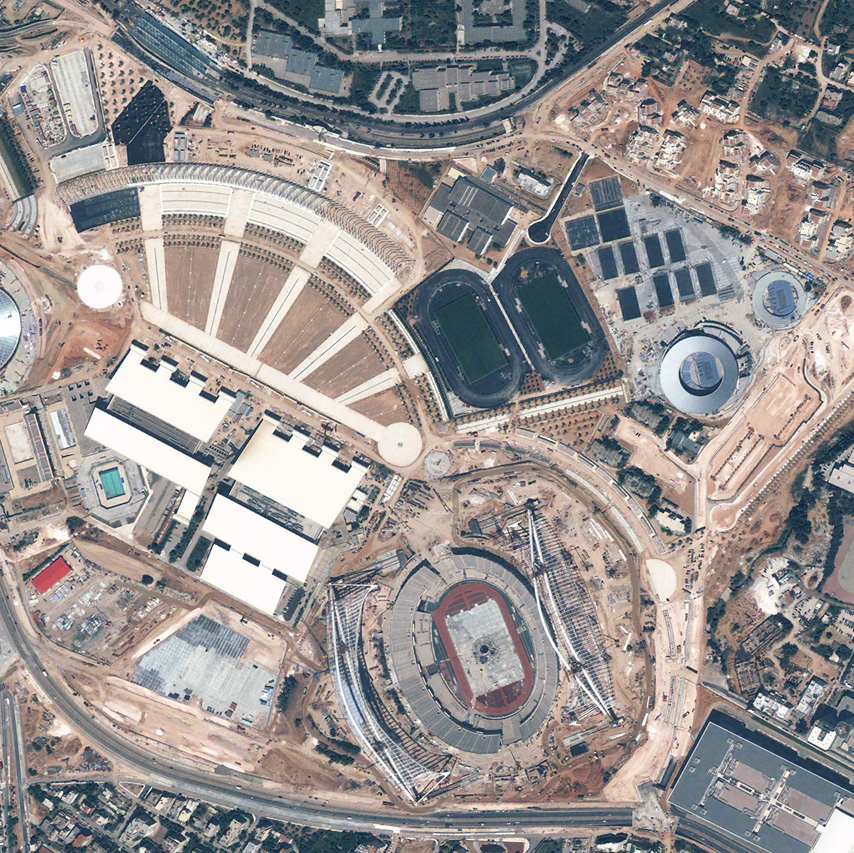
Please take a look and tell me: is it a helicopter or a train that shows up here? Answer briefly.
train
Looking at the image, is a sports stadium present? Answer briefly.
Yes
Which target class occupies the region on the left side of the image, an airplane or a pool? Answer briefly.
pool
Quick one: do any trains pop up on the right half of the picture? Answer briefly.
No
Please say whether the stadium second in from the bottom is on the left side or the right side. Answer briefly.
right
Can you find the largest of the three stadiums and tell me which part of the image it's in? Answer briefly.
bottom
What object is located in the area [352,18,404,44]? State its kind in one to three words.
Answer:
building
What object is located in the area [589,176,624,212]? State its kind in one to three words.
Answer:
tennis court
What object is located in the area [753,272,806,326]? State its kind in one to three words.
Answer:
stadium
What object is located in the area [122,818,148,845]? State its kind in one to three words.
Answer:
house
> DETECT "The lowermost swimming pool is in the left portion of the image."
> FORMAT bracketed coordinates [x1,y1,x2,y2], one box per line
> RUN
[78,451,150,527]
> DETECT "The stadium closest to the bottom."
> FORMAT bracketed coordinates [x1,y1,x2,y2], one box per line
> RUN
[386,553,558,759]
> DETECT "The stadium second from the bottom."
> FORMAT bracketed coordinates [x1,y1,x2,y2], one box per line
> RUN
[660,323,754,414]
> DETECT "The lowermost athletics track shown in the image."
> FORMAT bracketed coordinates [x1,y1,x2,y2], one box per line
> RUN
[431,582,533,714]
